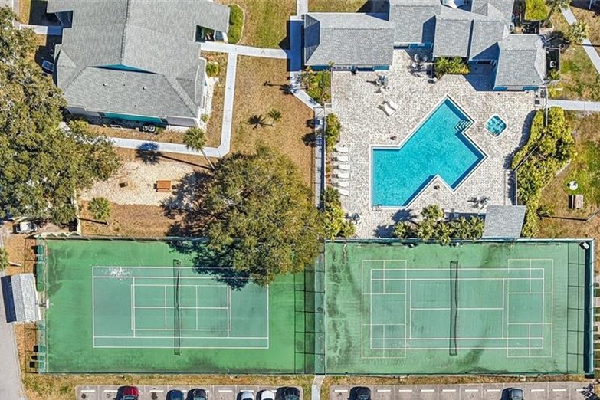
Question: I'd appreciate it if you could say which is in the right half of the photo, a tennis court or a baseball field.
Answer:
tennis court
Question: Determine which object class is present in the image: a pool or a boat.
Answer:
pool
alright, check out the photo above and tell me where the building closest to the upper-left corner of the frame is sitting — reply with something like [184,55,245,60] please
[49,0,231,129]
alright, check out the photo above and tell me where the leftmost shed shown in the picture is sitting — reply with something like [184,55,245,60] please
[11,273,44,322]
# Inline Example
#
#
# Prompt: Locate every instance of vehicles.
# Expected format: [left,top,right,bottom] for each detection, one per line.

[284,387,298,400]
[260,389,274,400]
[170,390,184,400]
[241,390,255,400]
[507,387,525,400]
[190,389,206,400]
[353,387,370,400]
[123,387,139,400]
